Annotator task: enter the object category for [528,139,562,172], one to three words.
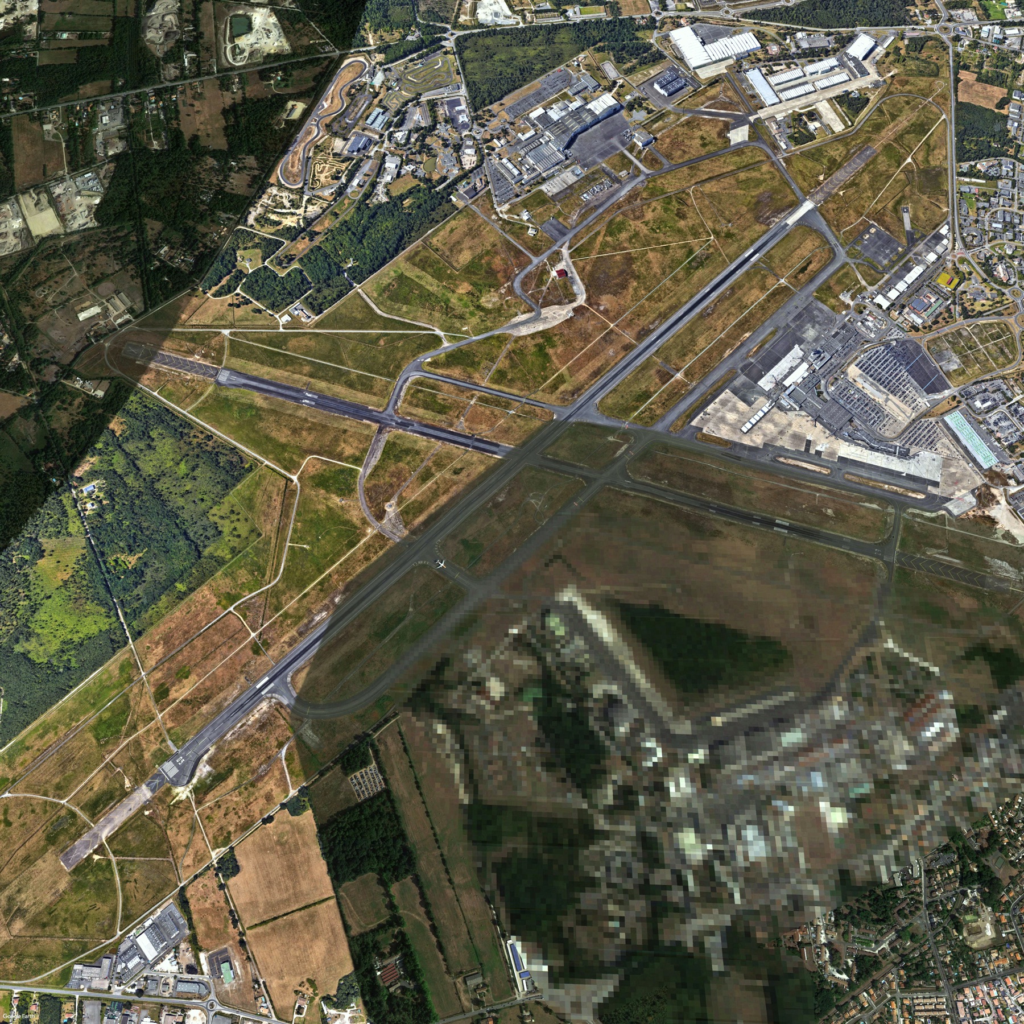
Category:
building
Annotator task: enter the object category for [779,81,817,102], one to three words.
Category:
hangar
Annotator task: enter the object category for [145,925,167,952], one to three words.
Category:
building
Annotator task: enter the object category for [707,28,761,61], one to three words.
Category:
hangar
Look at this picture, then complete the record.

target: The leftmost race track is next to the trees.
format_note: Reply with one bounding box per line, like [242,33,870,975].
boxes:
[277,57,374,189]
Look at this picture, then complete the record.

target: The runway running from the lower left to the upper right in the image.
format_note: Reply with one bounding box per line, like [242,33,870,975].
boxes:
[59,90,938,870]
